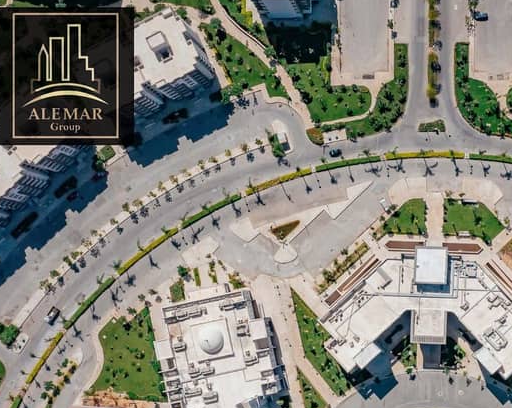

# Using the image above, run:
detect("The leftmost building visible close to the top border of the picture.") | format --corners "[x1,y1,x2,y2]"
[70,16,212,135]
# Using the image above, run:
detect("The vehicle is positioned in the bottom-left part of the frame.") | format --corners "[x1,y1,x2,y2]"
[47,307,61,322]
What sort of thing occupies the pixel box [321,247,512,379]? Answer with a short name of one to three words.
building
